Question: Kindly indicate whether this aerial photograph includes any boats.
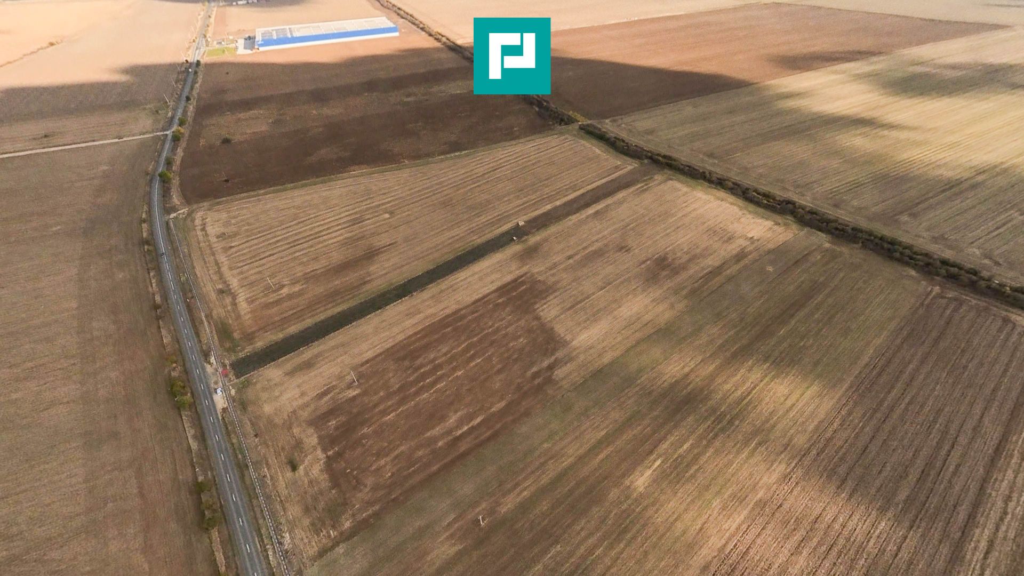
No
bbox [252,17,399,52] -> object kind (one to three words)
building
